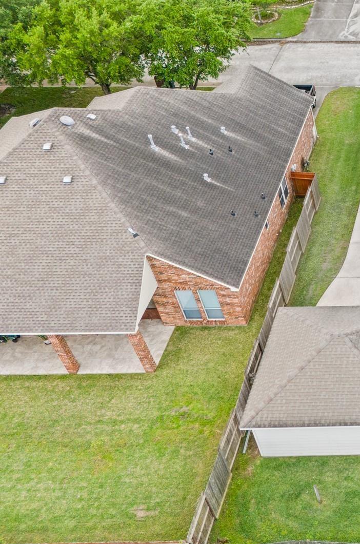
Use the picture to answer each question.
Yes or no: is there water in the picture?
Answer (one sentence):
No, there is no water in the image.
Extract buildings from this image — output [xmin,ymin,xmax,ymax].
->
[0,66,317,374]
[237,306,360,466]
